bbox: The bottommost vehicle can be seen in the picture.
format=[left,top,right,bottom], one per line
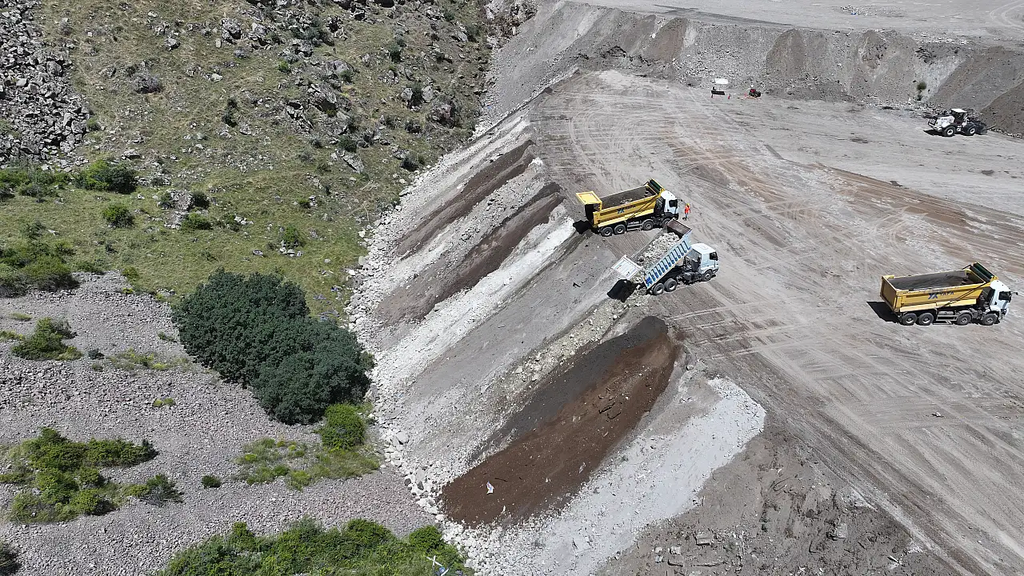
[880,263,1021,324]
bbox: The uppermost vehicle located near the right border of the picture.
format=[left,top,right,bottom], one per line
[926,108,988,136]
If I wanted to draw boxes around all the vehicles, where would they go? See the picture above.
[926,108,988,136]
[612,221,727,295]
[880,263,1021,324]
[570,179,683,236]
[749,89,762,97]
